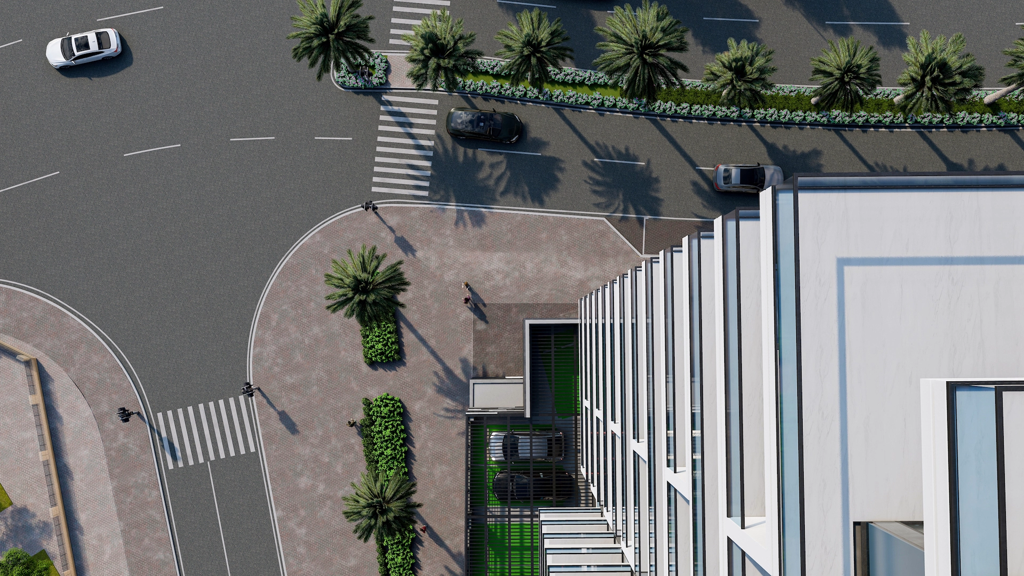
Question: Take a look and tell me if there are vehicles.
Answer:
Yes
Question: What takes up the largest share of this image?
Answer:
paved ground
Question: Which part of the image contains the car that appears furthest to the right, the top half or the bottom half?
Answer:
top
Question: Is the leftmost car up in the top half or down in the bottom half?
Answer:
top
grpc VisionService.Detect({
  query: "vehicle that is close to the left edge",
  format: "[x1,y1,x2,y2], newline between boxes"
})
[47,30,124,70]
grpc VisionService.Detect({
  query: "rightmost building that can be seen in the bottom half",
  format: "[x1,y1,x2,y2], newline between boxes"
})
[538,169,1024,576]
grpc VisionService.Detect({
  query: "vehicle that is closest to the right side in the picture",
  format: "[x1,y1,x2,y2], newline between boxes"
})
[712,160,783,193]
